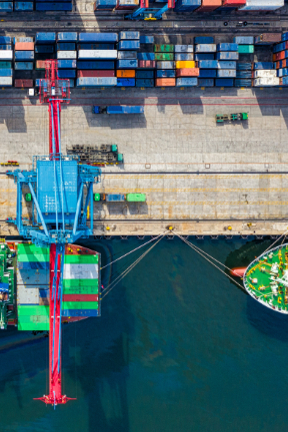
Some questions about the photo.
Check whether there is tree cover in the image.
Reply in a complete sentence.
No, no tree cover is visible.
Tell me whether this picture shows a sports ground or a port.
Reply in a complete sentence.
What you see here is a port.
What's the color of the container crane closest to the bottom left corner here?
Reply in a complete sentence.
The container crane closest to the bottom left corner is blue.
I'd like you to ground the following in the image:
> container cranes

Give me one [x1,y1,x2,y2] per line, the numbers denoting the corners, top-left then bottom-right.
[119,0,173,20]
[5,58,109,411]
